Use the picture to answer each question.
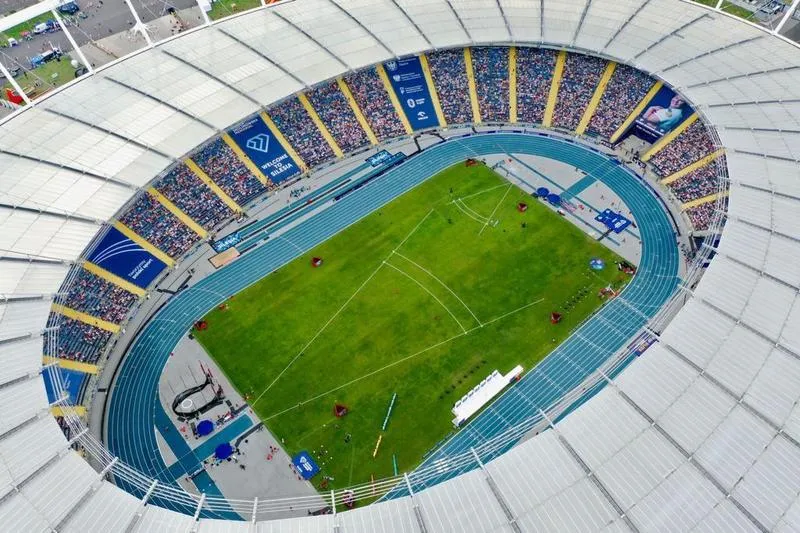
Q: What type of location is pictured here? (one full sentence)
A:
What you see here is a sports ground.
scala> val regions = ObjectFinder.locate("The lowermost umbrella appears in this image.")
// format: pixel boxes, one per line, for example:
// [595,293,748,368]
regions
[213,442,233,461]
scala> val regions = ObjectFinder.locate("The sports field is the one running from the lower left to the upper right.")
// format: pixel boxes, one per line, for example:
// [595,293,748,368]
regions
[153,153,642,519]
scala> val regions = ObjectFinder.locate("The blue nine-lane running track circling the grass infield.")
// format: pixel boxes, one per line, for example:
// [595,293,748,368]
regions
[106,135,680,533]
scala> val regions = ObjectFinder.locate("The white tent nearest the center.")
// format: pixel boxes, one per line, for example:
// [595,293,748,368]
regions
[449,363,524,426]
